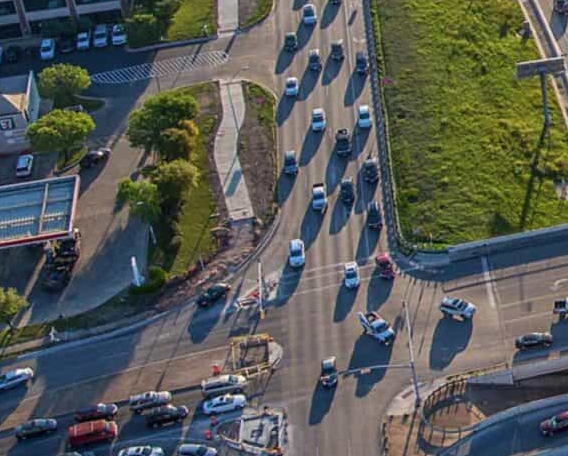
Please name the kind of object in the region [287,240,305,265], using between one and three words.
car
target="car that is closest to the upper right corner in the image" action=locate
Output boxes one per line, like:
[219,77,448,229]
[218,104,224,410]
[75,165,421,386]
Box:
[552,0,568,13]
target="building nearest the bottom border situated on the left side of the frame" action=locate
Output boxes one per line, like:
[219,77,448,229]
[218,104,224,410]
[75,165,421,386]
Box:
[0,63,42,153]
